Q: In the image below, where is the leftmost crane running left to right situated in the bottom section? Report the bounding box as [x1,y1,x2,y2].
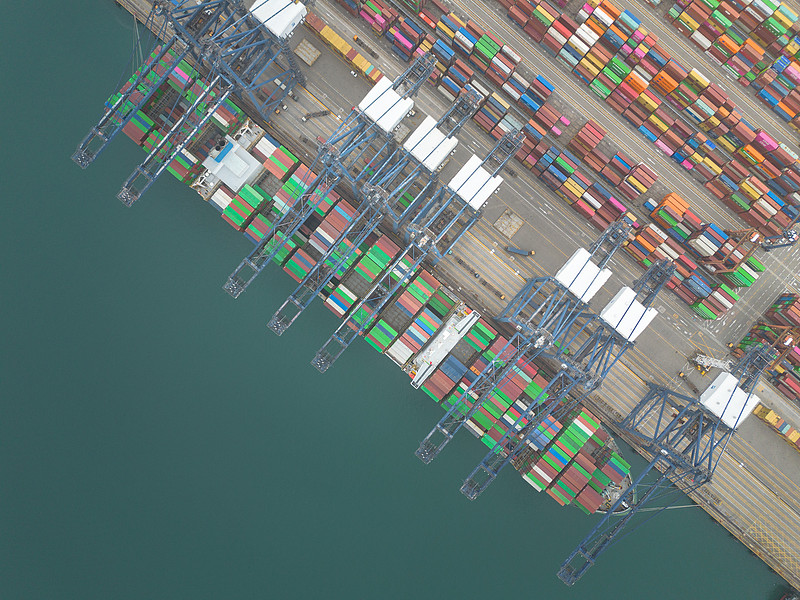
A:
[688,350,745,376]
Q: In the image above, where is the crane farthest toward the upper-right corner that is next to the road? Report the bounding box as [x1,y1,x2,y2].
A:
[761,207,800,255]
